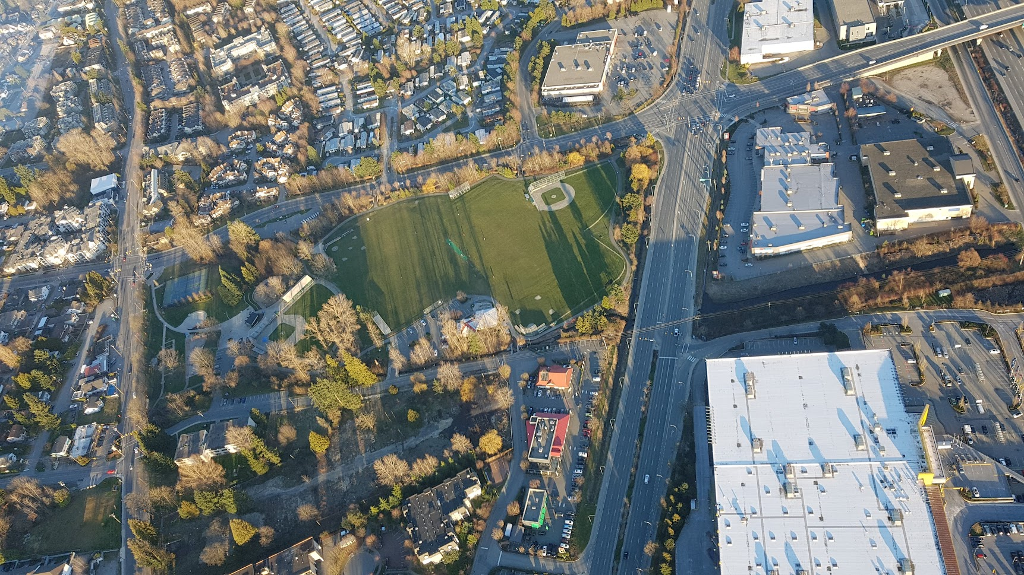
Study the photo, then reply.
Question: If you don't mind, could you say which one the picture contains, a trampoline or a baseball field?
baseball field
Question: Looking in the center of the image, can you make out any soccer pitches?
Yes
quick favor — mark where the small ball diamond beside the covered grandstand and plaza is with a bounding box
[257,284,332,345]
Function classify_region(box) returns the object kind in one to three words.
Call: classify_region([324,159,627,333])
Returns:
soccer field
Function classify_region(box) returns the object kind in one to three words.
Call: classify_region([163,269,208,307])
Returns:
tennis court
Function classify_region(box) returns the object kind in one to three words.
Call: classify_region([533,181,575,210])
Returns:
baseball field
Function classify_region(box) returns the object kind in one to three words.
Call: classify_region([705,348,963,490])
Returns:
warehouse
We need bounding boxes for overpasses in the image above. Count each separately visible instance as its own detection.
[814,3,1024,83]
